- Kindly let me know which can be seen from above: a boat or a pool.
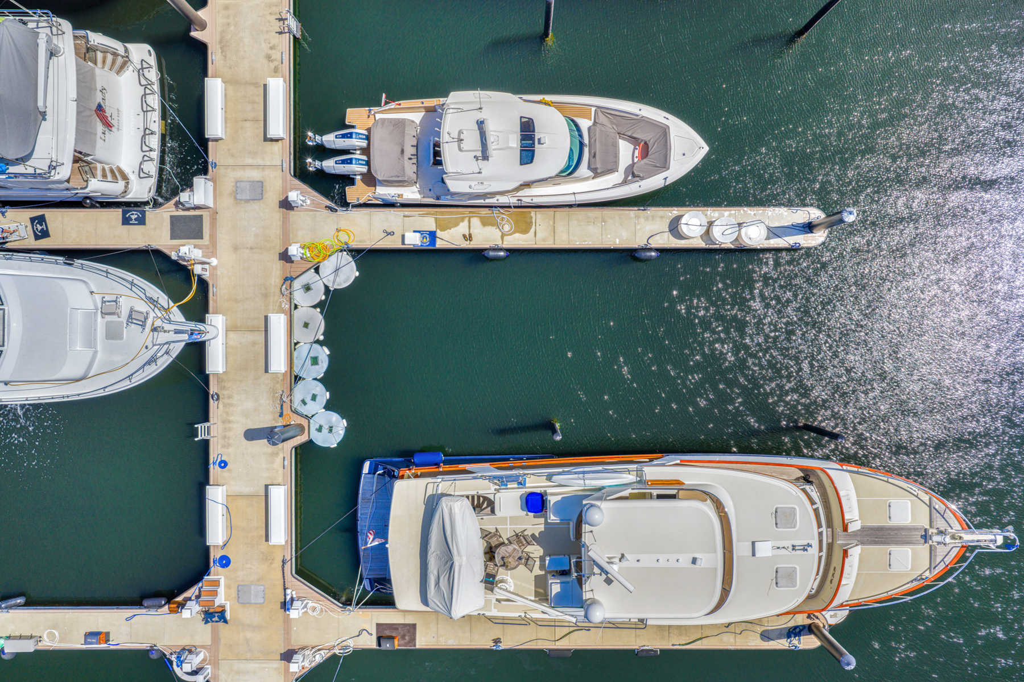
boat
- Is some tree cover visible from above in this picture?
No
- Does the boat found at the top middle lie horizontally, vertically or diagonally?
horizontally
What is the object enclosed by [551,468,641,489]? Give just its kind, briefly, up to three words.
boat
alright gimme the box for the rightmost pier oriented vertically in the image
[156,0,345,682]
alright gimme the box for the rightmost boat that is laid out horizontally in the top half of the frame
[305,86,709,209]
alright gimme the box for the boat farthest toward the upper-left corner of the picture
[0,0,167,210]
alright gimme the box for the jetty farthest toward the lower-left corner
[0,603,211,650]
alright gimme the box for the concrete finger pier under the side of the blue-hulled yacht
[292,603,829,650]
